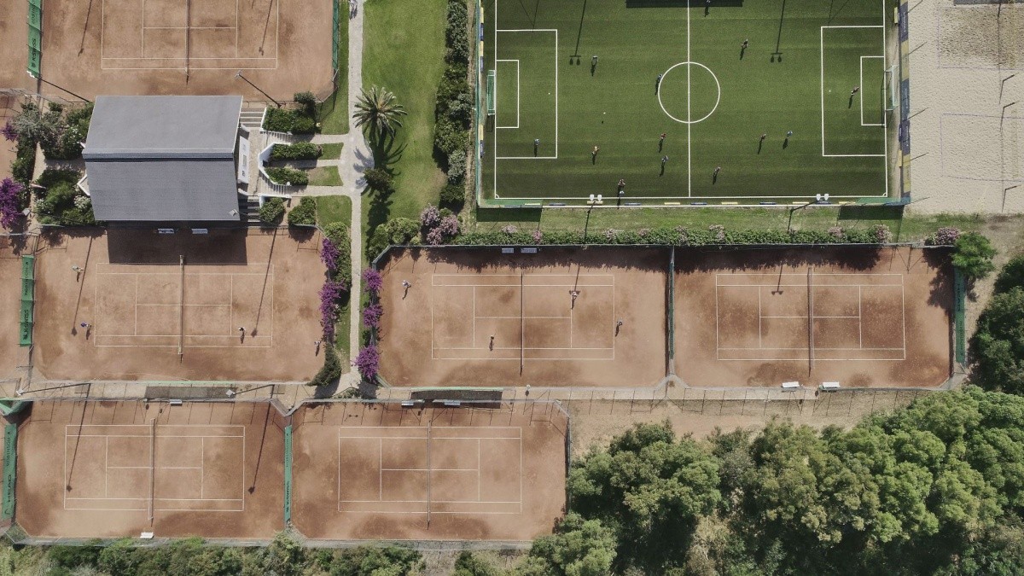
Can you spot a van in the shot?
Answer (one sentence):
No, I find no van anywhere in the image.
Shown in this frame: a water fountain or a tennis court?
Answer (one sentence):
Of the two, only a tennis court appears.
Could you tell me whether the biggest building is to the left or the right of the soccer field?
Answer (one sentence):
Looking at the photo, the biggest building lies to the left of the soccer field.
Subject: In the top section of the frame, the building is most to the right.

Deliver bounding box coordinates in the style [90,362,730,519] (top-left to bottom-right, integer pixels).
[82,94,252,221]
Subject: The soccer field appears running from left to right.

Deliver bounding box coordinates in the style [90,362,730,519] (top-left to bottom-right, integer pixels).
[477,0,899,205]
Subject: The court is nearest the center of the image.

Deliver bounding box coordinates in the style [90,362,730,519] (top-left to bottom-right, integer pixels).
[375,249,669,388]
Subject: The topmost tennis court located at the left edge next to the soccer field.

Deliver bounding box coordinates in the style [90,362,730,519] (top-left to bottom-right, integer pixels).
[40,0,339,100]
